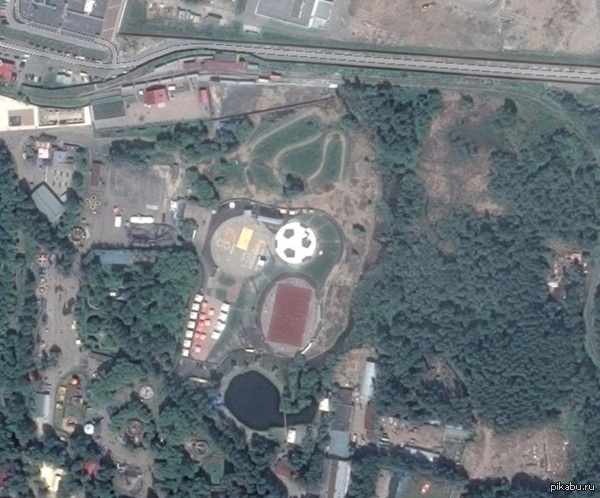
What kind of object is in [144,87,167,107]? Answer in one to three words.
house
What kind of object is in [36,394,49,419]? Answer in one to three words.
building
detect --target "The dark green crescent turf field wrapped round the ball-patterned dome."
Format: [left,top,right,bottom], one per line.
[261,209,342,288]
